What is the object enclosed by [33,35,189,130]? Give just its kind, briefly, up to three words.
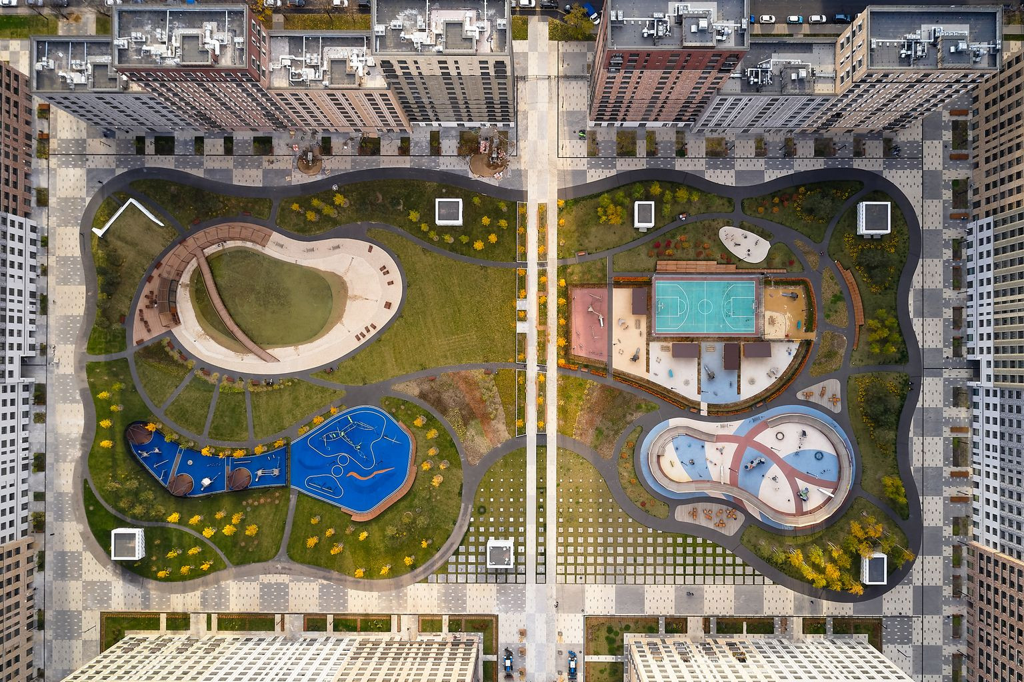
building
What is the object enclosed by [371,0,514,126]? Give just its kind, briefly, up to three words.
building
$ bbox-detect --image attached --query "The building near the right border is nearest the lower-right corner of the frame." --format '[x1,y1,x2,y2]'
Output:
[967,543,1024,682]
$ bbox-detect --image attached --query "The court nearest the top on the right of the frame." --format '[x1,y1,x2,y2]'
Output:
[652,275,765,336]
